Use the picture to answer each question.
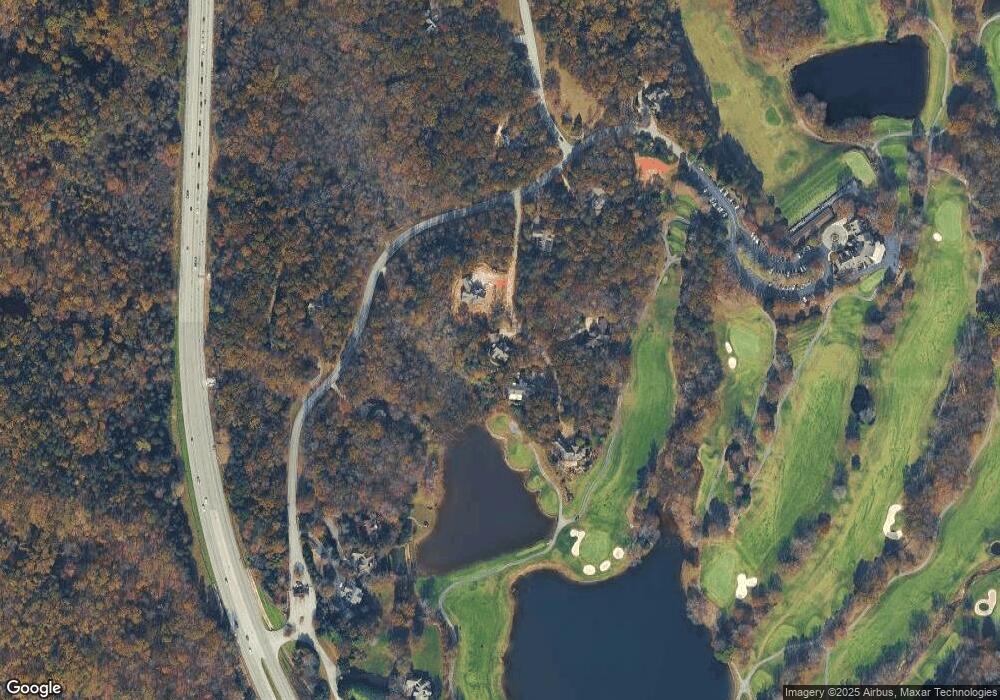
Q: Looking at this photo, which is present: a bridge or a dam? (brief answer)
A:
dam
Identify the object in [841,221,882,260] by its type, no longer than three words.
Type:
building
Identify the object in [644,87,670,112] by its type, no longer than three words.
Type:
house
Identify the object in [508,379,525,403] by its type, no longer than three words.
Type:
house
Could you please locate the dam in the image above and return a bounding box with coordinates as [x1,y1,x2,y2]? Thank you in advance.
[432,538,551,591]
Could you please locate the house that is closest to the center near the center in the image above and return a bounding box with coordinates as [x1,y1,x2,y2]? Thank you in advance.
[489,340,514,366]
